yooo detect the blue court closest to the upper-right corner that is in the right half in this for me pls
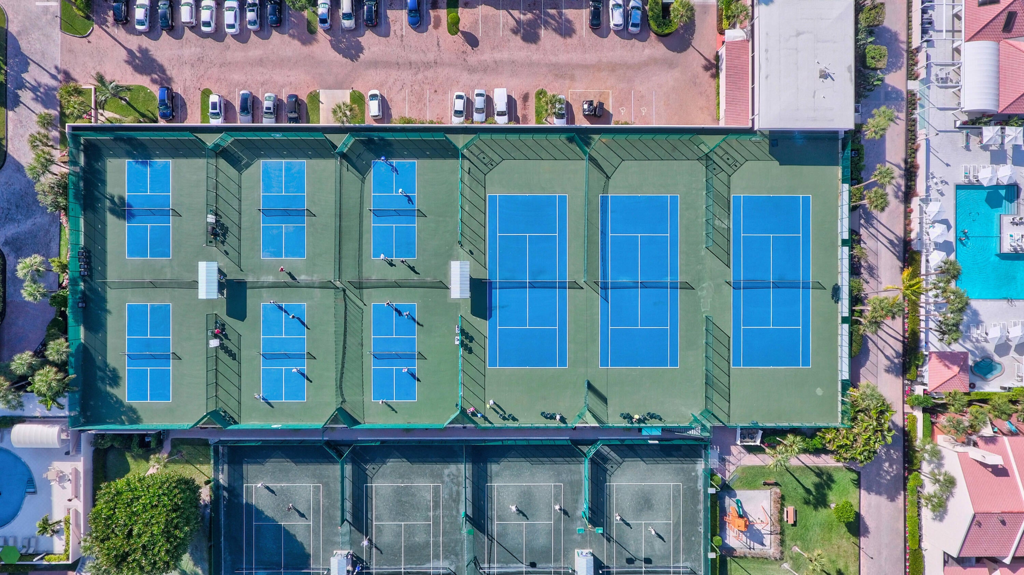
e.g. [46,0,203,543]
[732,194,811,368]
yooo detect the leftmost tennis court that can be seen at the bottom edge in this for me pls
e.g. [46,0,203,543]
[243,485,322,575]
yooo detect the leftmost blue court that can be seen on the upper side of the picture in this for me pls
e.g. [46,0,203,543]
[126,160,171,259]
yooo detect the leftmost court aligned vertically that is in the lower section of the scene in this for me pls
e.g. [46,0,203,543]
[126,303,171,402]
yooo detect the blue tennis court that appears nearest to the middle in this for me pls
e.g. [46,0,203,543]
[488,194,568,368]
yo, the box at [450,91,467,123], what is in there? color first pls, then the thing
white car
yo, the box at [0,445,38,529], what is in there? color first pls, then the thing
blue swimming pool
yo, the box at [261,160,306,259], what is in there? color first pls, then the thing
blue sports court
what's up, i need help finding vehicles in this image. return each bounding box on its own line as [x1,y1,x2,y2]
[471,89,488,123]
[553,94,569,123]
[260,92,278,123]
[366,89,383,122]
[199,0,217,33]
[492,86,509,123]
[156,0,175,31]
[587,0,604,29]
[133,0,152,32]
[362,0,379,26]
[627,0,644,34]
[245,0,262,31]
[406,0,422,28]
[317,0,333,30]
[268,0,283,27]
[208,93,226,123]
[237,90,255,123]
[156,85,176,121]
[178,0,198,27]
[285,93,302,123]
[450,91,467,123]
[111,0,131,24]
[339,0,356,30]
[223,0,241,35]
[609,0,626,31]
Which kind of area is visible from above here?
sports ground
